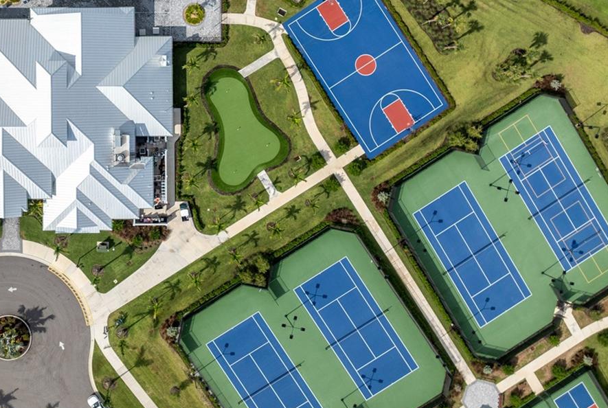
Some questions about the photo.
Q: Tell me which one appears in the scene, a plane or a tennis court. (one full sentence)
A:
I can see a tennis court in this picture.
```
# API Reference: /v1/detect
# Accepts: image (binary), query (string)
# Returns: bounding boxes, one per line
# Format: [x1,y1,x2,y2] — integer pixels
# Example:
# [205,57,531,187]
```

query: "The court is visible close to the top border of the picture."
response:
[281,0,448,159]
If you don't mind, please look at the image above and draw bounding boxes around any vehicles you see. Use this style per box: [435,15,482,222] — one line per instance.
[87,391,106,408]
[180,202,189,220]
